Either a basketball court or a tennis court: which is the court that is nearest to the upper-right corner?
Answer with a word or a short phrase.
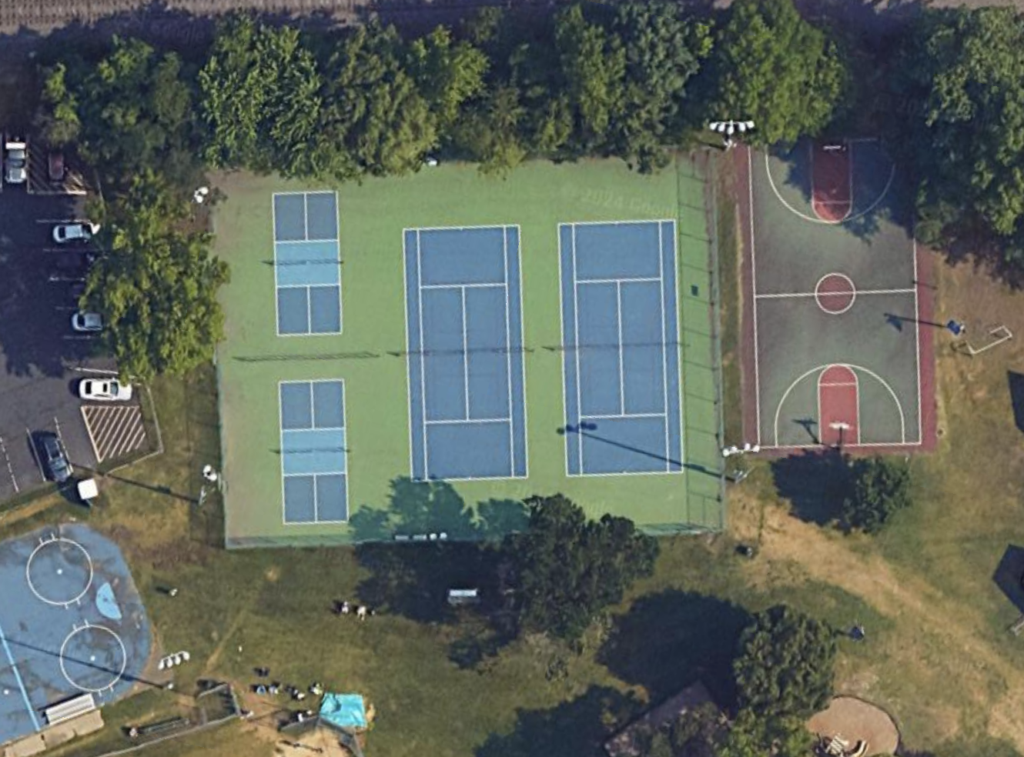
basketball court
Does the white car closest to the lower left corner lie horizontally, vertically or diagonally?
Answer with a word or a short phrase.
horizontally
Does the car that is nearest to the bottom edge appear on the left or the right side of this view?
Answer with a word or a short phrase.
left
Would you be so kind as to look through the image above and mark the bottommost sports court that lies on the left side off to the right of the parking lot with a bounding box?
[279,380,349,524]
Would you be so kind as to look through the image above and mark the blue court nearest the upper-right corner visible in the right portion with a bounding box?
[559,220,684,475]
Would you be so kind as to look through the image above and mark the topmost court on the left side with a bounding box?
[272,191,342,335]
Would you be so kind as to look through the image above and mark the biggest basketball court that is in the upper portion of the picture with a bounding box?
[734,129,939,459]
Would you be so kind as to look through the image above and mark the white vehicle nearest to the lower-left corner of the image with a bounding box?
[79,379,132,403]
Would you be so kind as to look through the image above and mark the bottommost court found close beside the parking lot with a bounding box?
[0,525,151,745]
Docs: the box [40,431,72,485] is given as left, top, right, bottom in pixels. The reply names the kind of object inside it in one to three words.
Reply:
car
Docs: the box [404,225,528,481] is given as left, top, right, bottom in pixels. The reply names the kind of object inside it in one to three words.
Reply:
tennis court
